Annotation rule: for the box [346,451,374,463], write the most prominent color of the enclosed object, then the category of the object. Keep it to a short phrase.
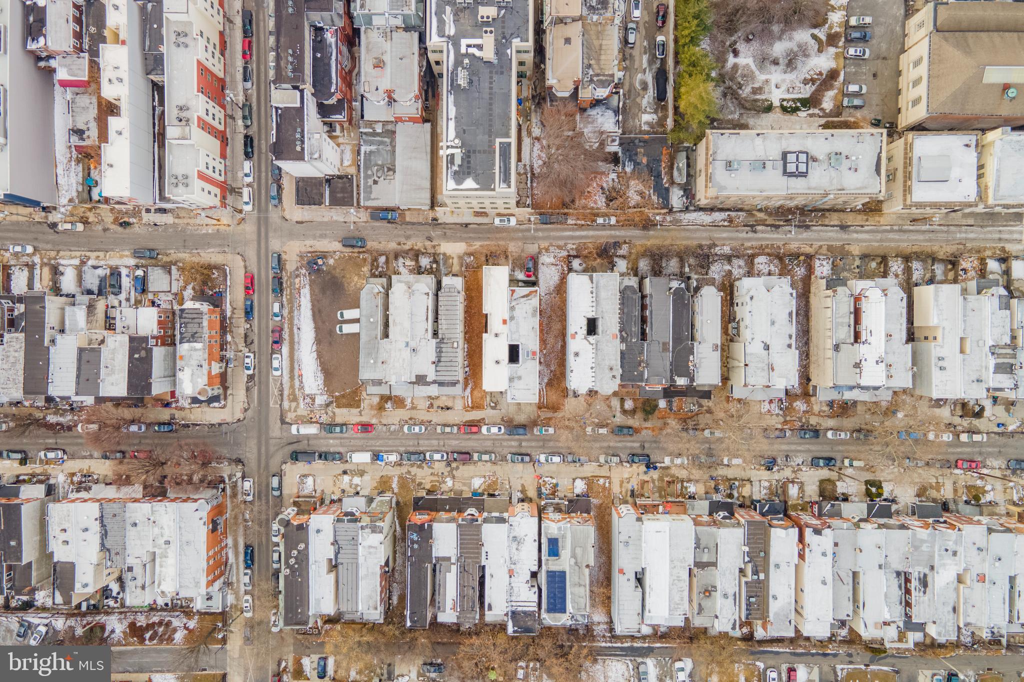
white vehicle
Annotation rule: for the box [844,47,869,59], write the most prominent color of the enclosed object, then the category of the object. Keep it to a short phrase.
white vehicle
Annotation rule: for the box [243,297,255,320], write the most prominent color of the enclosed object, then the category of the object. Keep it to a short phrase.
blue vehicle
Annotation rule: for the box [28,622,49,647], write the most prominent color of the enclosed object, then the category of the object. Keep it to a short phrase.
white car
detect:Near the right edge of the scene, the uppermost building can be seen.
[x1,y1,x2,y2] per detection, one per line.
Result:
[898,0,1024,129]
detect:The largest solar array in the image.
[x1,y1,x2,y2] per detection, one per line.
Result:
[547,571,566,613]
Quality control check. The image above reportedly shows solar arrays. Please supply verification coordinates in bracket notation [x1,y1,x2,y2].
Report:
[548,538,558,557]
[547,571,566,613]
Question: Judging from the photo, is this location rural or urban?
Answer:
urban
